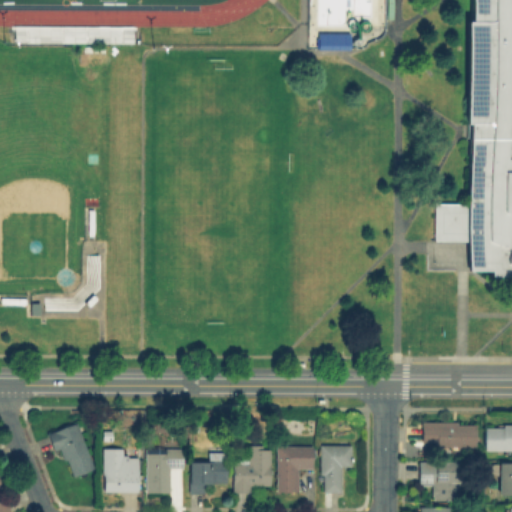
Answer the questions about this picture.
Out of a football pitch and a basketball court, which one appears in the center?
football pitch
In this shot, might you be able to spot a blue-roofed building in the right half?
Yes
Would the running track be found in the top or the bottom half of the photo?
top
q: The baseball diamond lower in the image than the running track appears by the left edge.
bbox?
[0,178,108,323]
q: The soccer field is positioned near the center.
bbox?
[146,51,290,352]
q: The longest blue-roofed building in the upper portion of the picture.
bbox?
[317,32,352,50]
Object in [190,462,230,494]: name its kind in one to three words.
house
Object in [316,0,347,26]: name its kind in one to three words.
swimming pool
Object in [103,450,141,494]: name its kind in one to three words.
house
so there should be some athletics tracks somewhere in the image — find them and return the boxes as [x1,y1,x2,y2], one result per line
[0,0,267,27]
